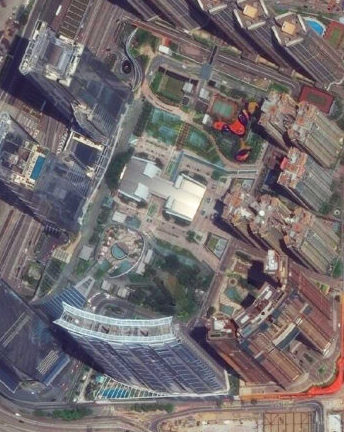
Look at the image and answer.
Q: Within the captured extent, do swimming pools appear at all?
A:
Yes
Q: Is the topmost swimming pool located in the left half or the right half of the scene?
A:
right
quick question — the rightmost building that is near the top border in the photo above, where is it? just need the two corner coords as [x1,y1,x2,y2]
[272,12,342,87]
